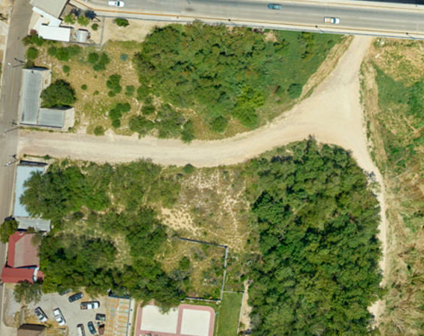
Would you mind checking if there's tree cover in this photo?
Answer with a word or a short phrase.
Yes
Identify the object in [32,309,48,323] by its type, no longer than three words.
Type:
vehicle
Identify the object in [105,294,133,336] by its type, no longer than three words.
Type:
building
